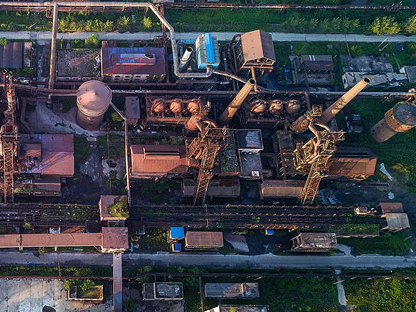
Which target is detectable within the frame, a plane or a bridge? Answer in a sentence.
It is a bridge that can be seen here.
